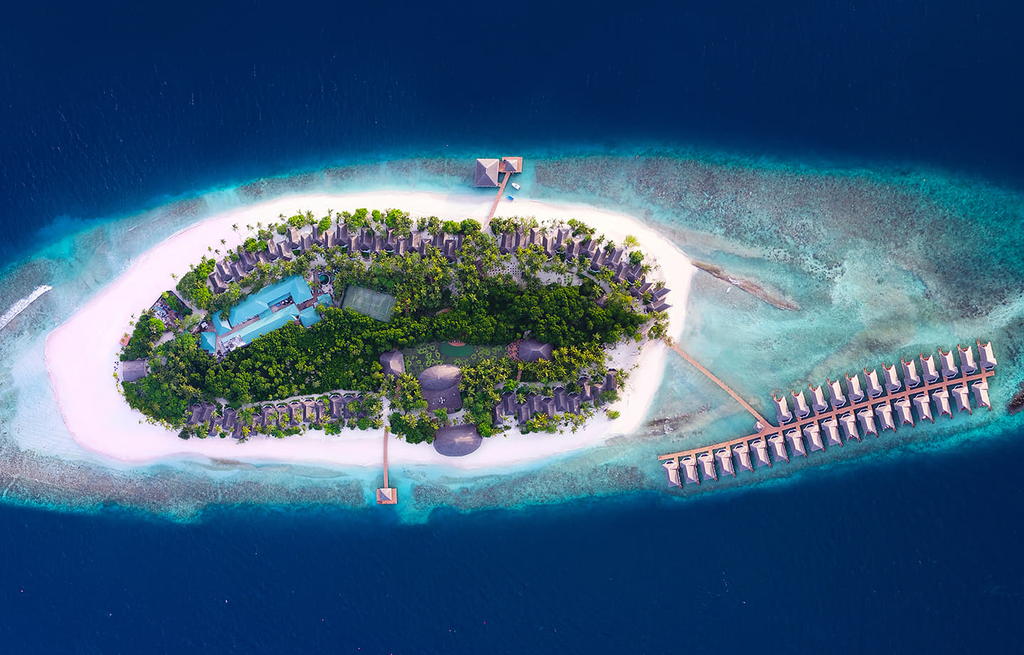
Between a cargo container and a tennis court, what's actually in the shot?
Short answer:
tennis court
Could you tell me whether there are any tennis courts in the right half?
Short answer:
No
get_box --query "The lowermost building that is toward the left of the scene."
[377,488,397,504]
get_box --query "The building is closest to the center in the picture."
[517,339,554,362]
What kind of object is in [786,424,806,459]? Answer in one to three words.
house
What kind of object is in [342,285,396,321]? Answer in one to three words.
tennis court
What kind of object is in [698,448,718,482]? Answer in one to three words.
house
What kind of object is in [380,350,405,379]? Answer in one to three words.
building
